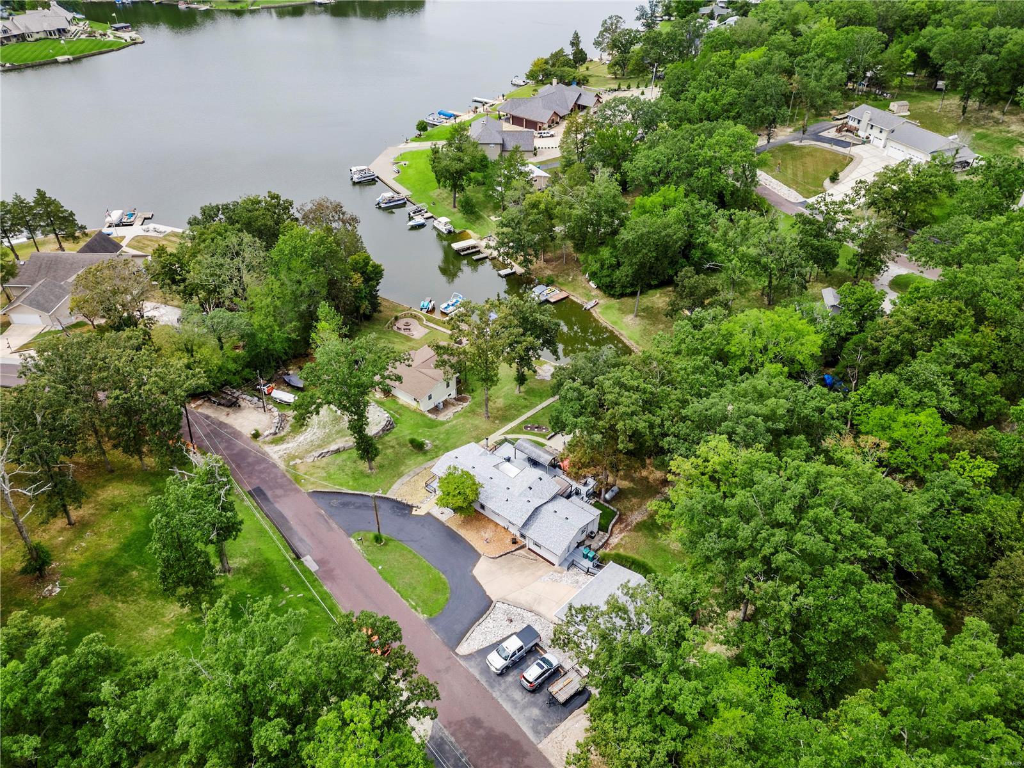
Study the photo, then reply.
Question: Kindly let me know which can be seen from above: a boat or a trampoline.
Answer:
boat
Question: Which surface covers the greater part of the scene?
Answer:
trees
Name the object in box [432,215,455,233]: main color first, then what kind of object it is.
white boat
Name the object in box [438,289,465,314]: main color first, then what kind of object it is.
white boat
